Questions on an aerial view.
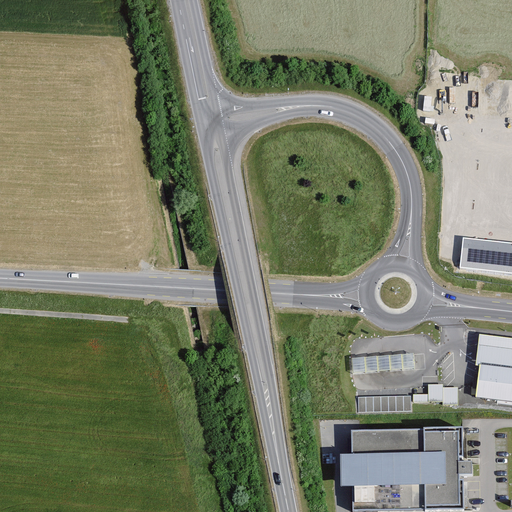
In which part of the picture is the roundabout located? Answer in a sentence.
The roundabout is in the right part of the image.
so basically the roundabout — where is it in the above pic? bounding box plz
[358,254,434,330]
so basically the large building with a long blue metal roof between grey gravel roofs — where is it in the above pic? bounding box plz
[340,426,473,510]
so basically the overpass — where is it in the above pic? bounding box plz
[214,239,272,343]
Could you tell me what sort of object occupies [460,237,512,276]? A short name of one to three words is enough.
building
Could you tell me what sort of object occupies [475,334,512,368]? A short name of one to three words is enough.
building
